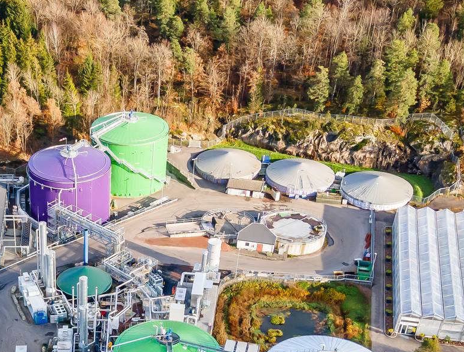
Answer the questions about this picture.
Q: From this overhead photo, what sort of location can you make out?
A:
industrial area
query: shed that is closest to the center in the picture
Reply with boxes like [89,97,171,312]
[226,175,267,198]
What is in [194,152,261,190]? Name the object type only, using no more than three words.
storage tank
